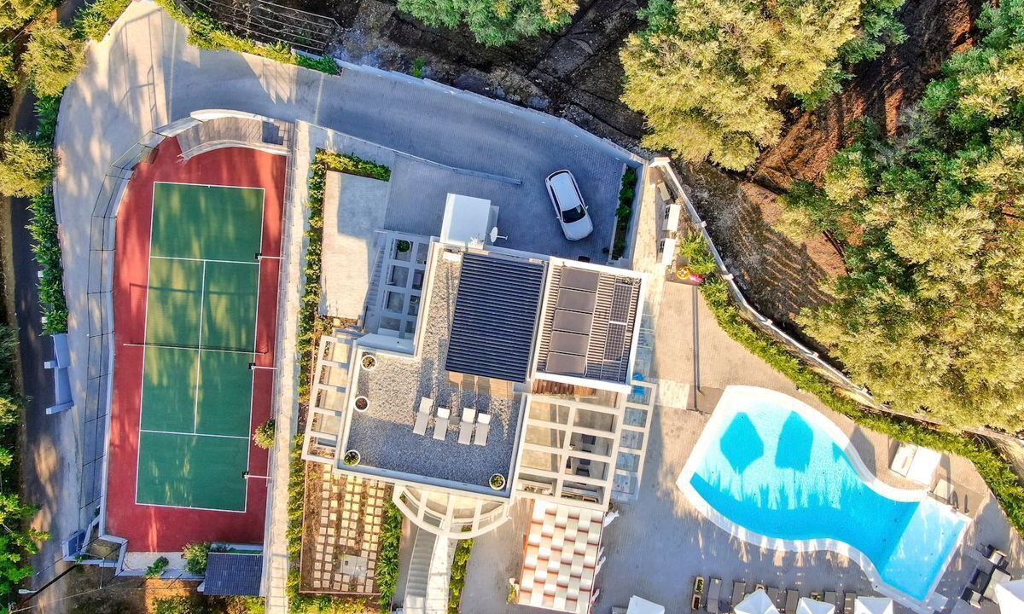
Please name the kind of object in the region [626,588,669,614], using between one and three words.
umbrella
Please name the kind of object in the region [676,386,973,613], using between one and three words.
swimming pool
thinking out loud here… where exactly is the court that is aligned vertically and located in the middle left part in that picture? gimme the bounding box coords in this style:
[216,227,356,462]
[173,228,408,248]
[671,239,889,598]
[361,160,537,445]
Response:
[107,138,287,553]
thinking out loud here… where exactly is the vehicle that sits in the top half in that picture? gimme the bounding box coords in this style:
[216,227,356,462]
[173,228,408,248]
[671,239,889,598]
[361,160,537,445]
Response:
[546,168,595,245]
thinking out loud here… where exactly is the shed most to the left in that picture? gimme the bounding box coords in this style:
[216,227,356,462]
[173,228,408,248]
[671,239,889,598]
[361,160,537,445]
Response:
[197,540,263,596]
